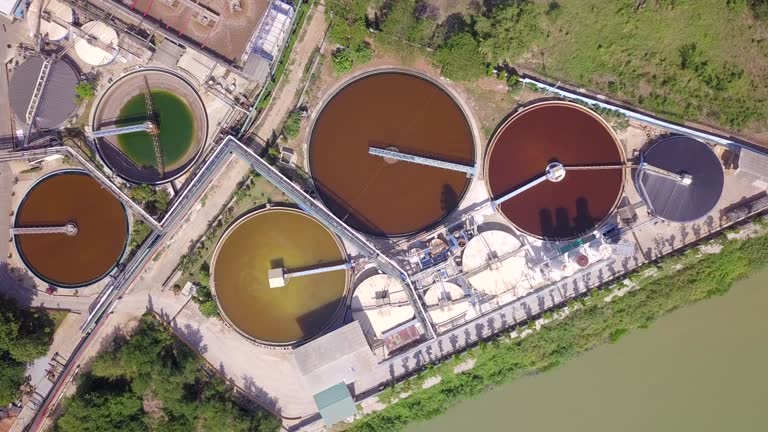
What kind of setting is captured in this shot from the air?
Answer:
industrial area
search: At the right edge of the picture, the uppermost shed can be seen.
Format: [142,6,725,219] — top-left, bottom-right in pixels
[724,156,768,197]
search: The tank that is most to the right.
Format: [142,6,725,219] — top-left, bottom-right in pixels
[633,136,724,220]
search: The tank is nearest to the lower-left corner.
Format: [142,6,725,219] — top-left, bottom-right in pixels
[7,170,133,287]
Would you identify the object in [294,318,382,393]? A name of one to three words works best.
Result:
building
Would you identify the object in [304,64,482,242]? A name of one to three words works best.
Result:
storage tank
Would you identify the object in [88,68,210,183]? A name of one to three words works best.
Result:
storage tank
